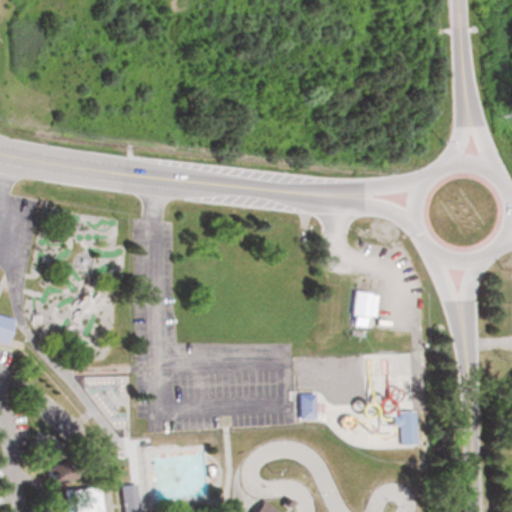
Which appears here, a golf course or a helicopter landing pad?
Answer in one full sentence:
Of the two, only a golf course appears.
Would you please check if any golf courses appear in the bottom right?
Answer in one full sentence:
No, I see no golf course in the bottom right.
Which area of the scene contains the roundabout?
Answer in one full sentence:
The roundabout is located in the right region of the scene.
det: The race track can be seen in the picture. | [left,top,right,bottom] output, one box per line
[240,438,420,512]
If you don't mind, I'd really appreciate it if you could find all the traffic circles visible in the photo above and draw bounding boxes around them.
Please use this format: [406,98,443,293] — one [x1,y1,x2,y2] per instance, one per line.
[365,125,512,302]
